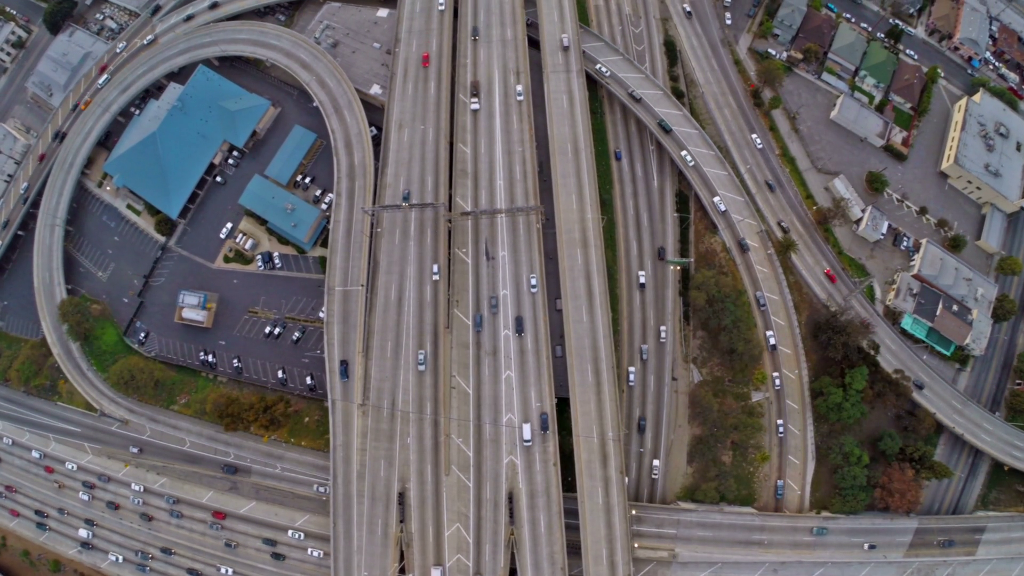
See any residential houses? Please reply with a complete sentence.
Yes, I can see a residential house in this picture.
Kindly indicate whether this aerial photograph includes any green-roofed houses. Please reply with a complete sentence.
Yes, there is a green-roofed house in the image.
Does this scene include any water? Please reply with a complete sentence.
No, there is no water in the image.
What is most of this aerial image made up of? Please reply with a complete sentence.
The scene is dominated by paved ground.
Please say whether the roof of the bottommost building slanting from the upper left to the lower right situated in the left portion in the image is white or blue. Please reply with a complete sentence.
The color of the roof of the bottommost building slanting from the upper left to the lower right situated in the left portion is blue.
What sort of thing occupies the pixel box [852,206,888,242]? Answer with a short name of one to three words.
building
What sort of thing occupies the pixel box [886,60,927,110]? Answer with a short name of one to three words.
house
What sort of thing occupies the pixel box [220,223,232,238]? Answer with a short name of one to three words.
vehicle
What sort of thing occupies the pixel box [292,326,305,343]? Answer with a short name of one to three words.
vehicle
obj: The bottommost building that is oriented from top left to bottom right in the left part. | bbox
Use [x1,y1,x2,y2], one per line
[239,174,327,251]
